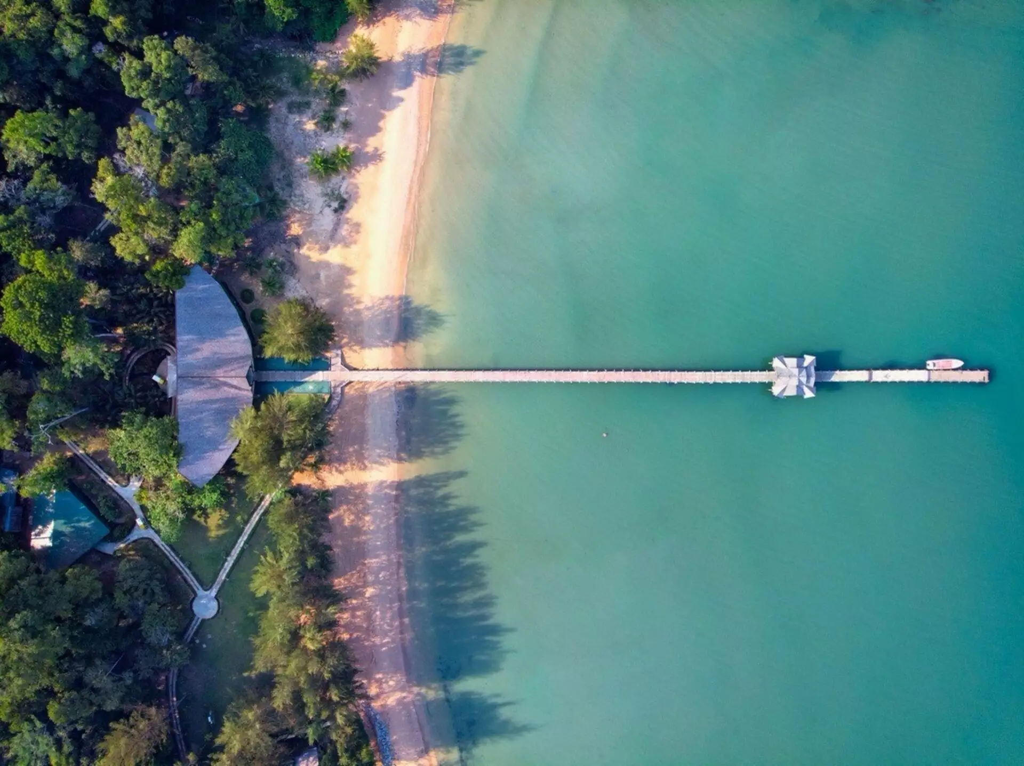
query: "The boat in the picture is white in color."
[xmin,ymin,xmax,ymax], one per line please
[925,359,964,371]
